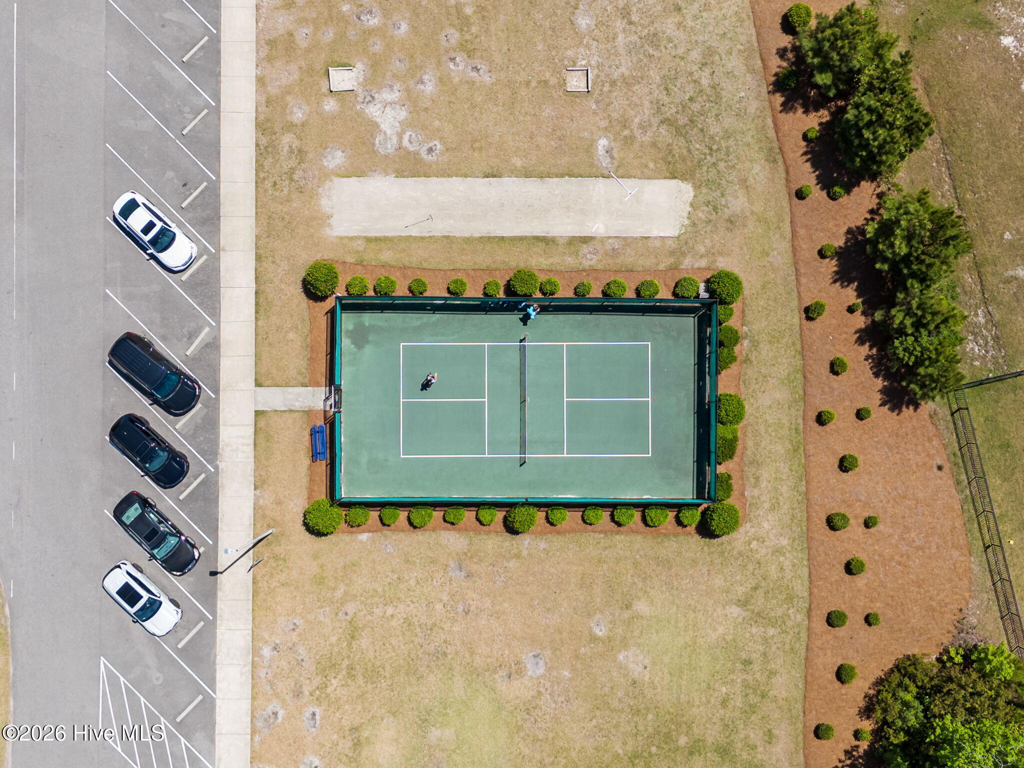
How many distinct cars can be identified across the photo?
five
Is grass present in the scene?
Yes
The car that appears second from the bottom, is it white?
No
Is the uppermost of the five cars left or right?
left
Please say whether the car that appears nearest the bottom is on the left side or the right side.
left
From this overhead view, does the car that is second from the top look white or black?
black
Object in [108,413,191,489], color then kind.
black car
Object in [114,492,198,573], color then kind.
black car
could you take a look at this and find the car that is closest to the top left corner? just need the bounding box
[113,190,197,269]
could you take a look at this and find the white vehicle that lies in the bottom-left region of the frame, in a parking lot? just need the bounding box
[102,559,183,634]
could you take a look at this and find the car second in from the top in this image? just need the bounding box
[105,331,201,414]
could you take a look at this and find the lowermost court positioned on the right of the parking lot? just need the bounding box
[341,299,710,498]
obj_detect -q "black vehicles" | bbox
[114,492,198,573]
[105,331,201,414]
[108,413,191,489]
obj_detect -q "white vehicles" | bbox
[102,559,183,634]
[113,190,197,269]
